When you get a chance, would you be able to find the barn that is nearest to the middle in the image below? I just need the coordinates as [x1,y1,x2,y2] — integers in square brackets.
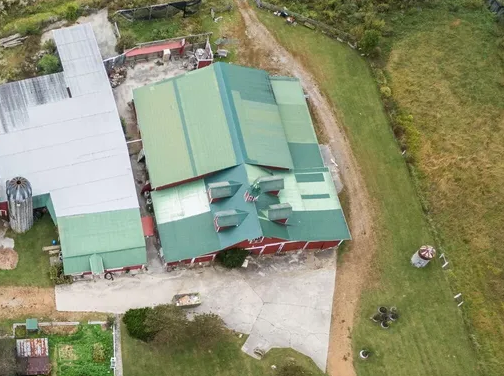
[133,62,352,270]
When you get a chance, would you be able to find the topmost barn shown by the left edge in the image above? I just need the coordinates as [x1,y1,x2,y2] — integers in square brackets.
[0,23,147,284]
